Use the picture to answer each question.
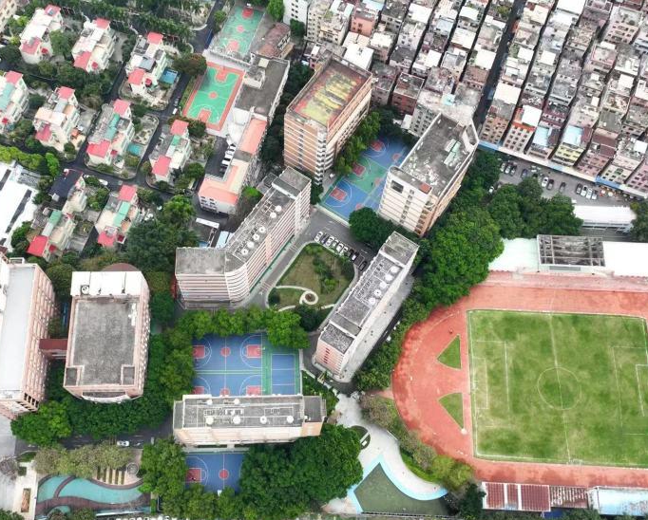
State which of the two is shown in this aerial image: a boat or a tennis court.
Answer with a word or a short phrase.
tennis court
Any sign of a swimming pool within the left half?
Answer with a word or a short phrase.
Yes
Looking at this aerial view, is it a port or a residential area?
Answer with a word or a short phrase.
residential area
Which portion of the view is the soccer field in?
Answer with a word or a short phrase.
bottom right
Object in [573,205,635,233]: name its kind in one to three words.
shed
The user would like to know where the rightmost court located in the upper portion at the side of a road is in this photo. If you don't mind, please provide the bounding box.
[314,121,418,228]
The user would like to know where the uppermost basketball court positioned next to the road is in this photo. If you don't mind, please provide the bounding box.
[209,4,262,57]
